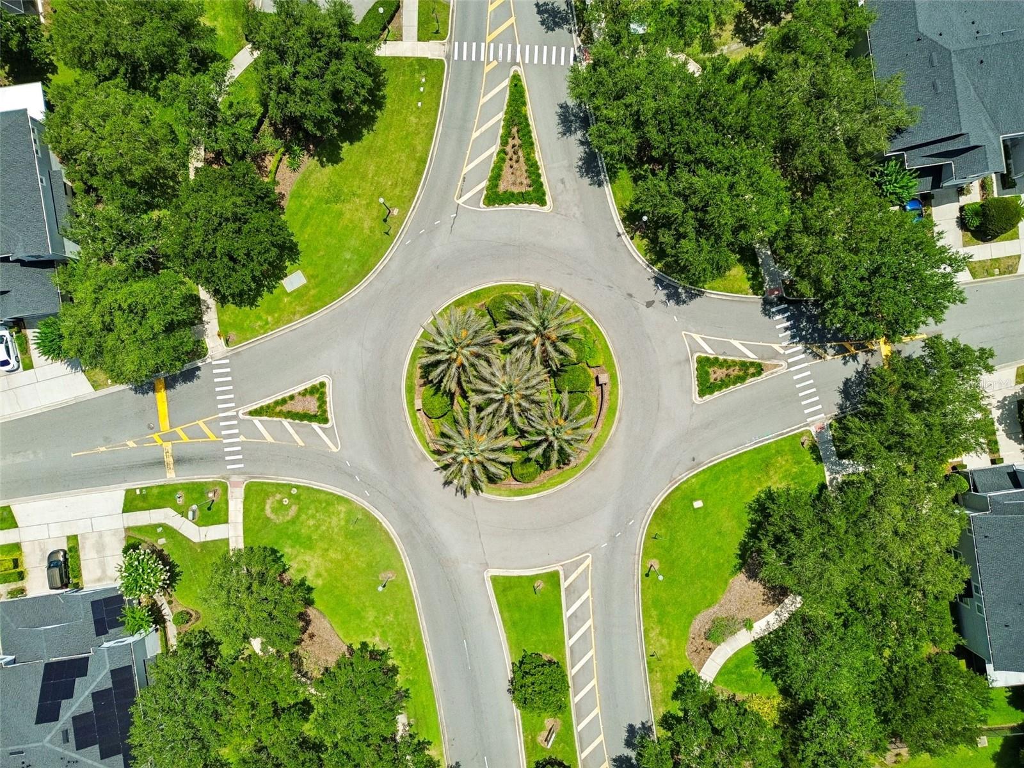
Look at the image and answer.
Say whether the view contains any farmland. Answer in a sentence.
No, no farmland is visible.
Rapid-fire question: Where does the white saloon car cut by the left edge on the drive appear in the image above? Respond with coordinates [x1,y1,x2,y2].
[0,332,20,372]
